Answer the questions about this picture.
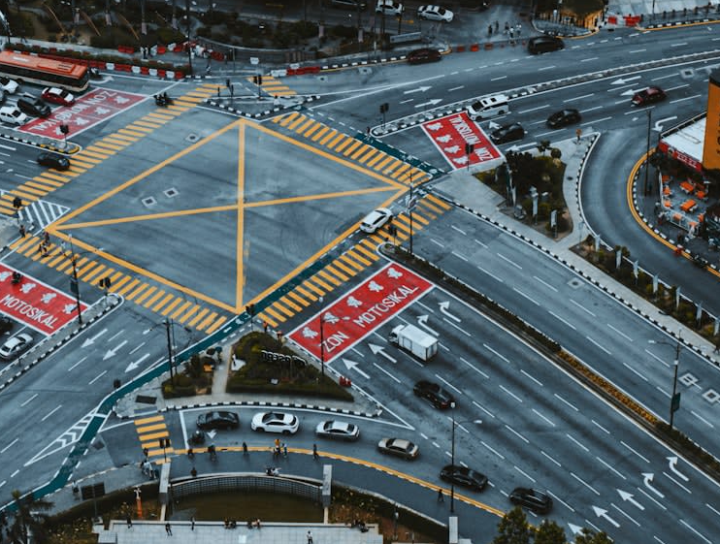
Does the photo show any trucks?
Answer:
Yes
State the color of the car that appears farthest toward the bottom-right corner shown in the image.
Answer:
black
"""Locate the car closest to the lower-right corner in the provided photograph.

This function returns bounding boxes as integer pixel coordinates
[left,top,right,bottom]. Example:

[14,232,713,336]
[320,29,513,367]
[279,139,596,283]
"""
[504,487,557,518]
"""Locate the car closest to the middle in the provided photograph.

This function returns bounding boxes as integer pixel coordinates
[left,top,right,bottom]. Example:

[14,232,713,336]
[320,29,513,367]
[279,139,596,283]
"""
[357,209,394,236]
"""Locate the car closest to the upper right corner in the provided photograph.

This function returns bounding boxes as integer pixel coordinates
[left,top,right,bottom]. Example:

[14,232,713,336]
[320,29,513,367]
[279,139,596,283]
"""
[628,89,670,108]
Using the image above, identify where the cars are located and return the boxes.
[313,419,364,444]
[38,89,78,107]
[0,333,36,363]
[373,437,425,463]
[415,7,455,24]
[544,110,586,131]
[404,48,445,66]
[467,92,510,118]
[628,89,670,108]
[0,76,19,94]
[438,466,491,493]
[489,124,527,144]
[412,382,457,412]
[250,411,299,435]
[504,487,557,518]
[195,411,243,432]
[357,209,394,236]
[0,106,30,126]
[35,153,72,173]
[0,91,9,104]
[0,317,15,338]
[527,36,566,56]
[14,93,55,118]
